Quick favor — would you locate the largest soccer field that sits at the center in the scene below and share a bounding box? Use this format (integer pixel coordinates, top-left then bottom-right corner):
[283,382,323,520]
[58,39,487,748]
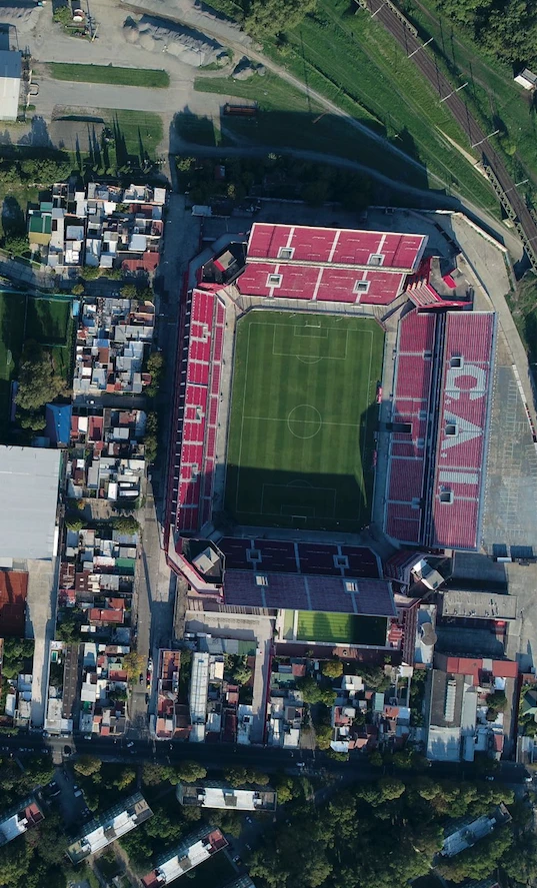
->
[225,310,383,532]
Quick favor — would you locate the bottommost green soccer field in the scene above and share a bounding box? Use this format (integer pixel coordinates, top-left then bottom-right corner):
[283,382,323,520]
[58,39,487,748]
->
[277,610,389,652]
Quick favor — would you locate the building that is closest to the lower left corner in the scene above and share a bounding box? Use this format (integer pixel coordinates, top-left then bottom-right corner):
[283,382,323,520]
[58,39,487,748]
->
[0,790,52,846]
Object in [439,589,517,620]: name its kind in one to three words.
building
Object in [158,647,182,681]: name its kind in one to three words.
house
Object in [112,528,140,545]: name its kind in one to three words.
house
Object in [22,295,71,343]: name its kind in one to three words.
soccer field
